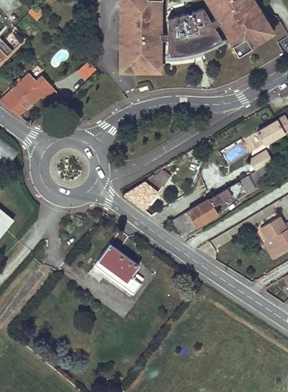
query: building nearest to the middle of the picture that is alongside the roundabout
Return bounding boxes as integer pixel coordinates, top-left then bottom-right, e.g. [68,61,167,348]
[124,182,164,212]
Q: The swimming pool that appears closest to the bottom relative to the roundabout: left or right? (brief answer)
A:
on the right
